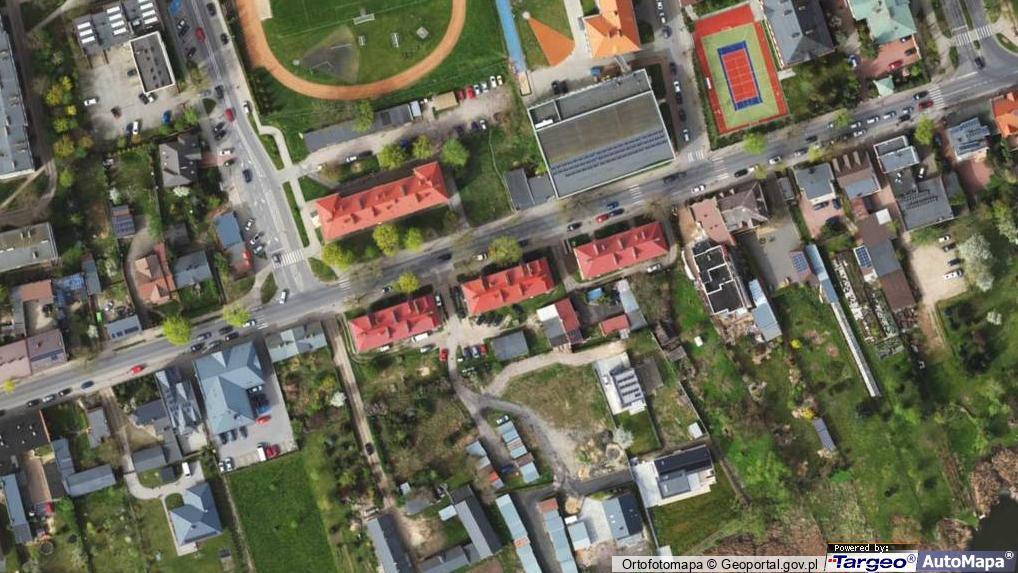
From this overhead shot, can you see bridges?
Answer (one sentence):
No, there is no bridge in the image.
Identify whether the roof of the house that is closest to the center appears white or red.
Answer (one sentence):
From above, the roof of the house that is closest to the center appears red.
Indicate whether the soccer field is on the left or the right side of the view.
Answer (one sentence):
The soccer field appears in the left half of the scene.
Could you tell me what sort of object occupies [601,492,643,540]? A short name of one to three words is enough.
house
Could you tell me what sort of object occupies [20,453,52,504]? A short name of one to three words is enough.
building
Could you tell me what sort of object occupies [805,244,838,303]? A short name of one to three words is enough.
shed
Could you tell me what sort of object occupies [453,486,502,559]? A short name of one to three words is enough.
barn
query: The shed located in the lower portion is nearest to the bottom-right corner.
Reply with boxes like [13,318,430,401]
[812,418,836,453]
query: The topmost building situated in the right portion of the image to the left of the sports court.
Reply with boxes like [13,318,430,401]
[584,0,640,60]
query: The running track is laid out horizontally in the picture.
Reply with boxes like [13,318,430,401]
[236,0,467,99]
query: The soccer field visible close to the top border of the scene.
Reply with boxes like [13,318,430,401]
[256,0,452,87]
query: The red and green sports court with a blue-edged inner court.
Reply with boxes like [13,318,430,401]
[697,4,788,134]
